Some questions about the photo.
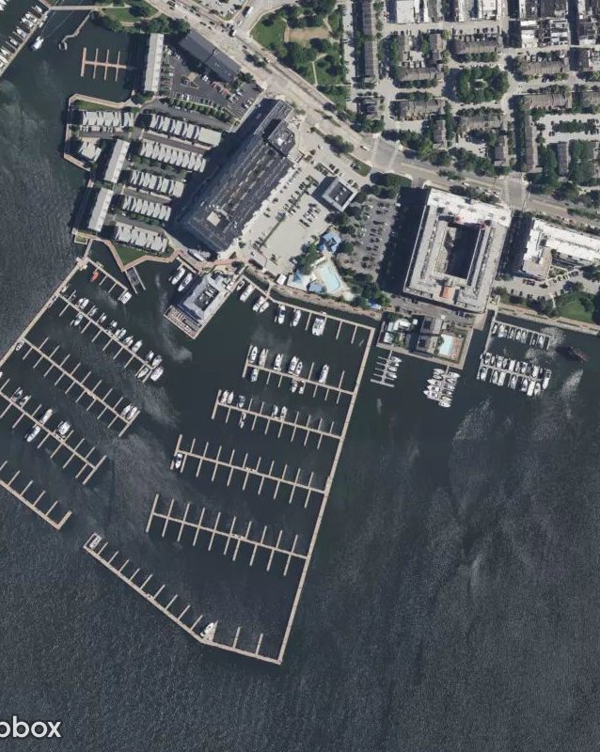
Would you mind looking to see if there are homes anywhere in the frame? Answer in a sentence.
Yes, looking at the shot, I can spot a home.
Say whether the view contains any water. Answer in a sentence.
Yes, there's water in this view.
